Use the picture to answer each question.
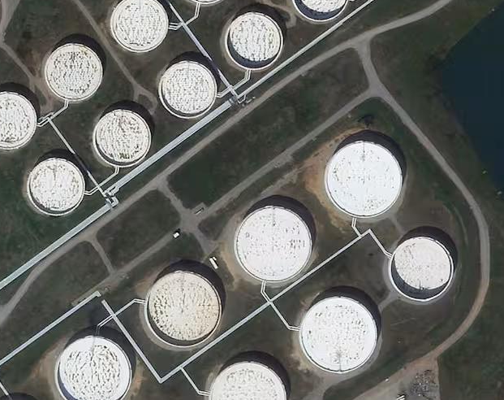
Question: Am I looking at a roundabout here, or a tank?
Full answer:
I can see a tank in this picture.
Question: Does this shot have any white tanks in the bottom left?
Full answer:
Yes, a white tank is visible in the bottom left.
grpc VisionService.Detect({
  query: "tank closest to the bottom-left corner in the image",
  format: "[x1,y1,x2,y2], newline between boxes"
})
[56,334,132,400]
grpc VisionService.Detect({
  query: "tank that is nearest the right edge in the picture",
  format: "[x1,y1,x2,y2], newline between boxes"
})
[389,236,454,301]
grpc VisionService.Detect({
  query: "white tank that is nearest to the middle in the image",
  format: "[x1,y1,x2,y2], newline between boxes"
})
[234,204,312,282]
